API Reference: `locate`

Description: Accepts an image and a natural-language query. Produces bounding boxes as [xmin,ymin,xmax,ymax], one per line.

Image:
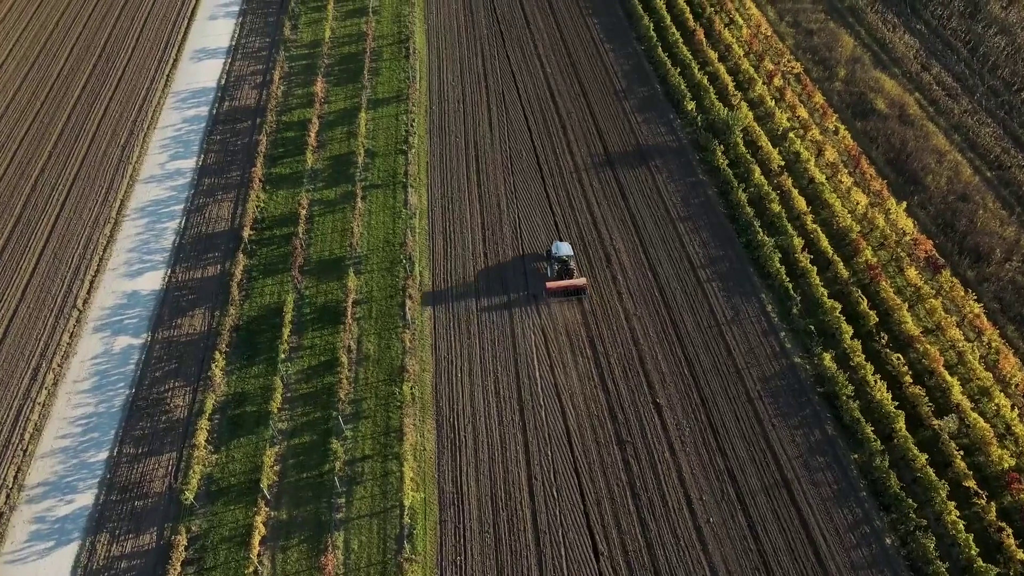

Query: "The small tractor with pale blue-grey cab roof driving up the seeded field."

[544,240,578,283]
